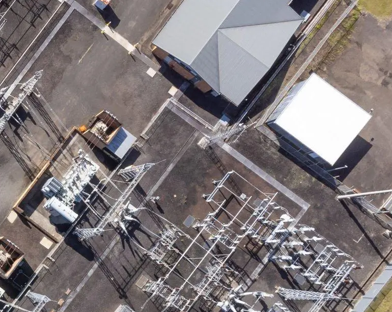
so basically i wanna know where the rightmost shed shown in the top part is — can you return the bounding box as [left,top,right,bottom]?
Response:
[265,73,372,167]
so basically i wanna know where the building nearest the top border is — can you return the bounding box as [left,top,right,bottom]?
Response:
[148,0,304,108]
